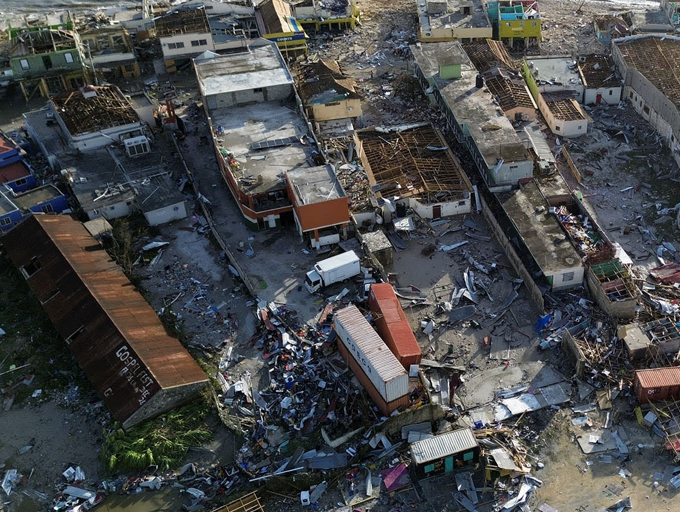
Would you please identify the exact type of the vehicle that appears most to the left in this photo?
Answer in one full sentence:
Looking closely, the vehicle that appears most to the left is a truck.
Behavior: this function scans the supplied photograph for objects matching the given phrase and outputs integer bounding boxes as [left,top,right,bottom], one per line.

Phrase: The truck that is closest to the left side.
[300,250,362,297]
